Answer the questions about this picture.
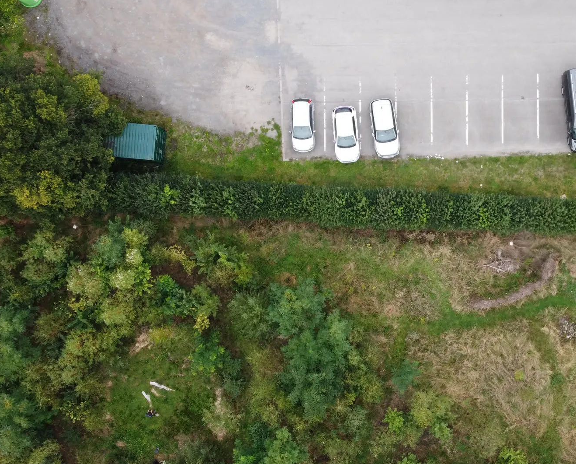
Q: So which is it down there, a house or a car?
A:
car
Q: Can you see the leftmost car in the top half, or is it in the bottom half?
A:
top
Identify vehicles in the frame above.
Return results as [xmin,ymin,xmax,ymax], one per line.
[369,100,400,159]
[330,107,362,165]
[562,67,576,156]
[287,98,317,153]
